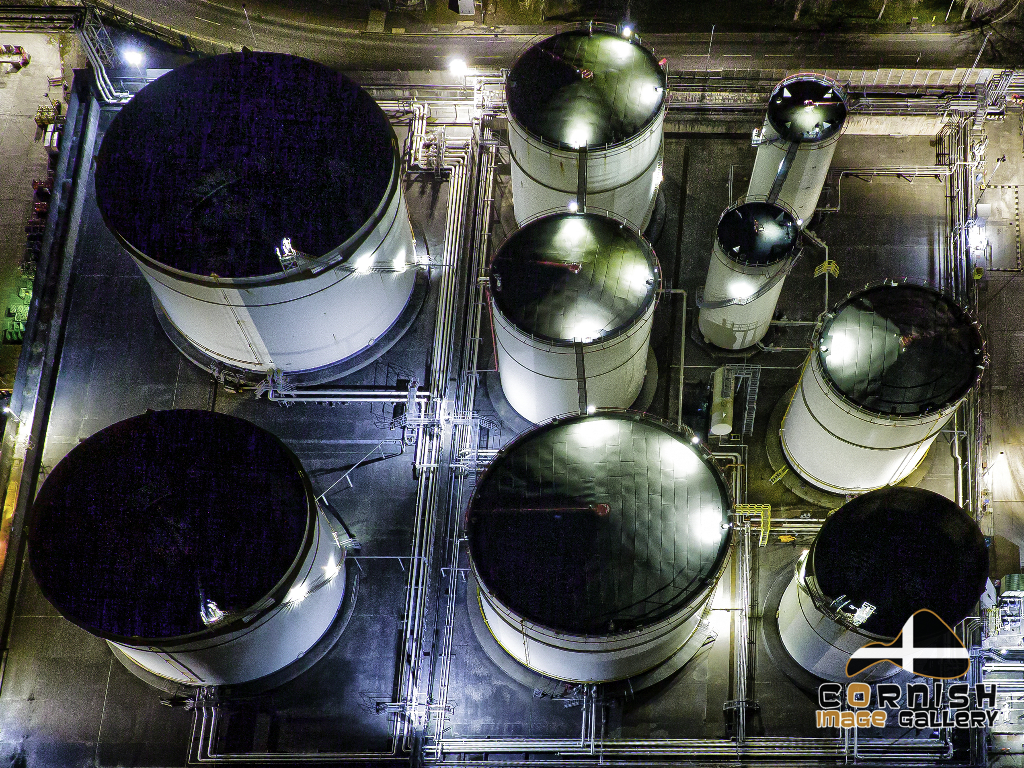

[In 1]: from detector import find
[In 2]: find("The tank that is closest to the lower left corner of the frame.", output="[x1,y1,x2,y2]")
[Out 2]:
[36,400,361,712]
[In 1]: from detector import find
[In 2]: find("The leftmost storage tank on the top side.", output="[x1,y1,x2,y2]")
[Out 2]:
[96,49,438,392]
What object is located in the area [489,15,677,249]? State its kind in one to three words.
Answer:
storage tank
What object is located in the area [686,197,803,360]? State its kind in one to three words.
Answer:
storage tank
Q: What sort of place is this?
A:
industrial area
